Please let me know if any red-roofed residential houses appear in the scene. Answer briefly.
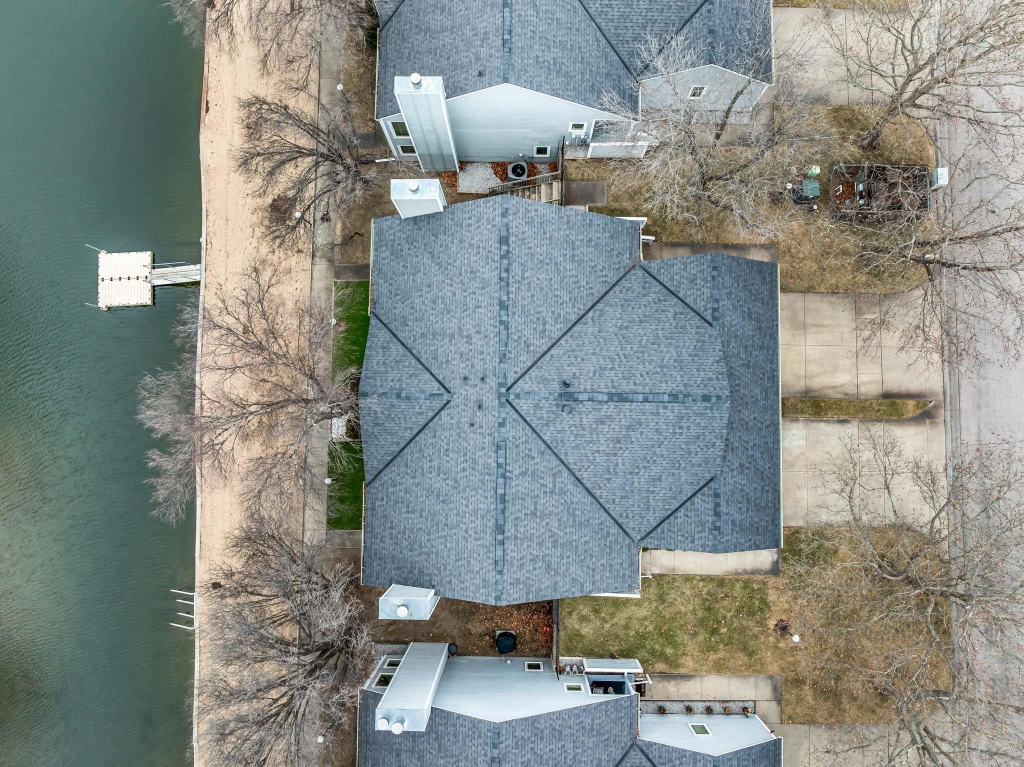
No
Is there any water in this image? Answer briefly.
Yes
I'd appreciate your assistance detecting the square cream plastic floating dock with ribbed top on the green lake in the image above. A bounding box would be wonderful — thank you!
[82,242,157,311]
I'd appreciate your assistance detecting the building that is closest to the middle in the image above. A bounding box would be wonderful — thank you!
[358,173,782,629]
